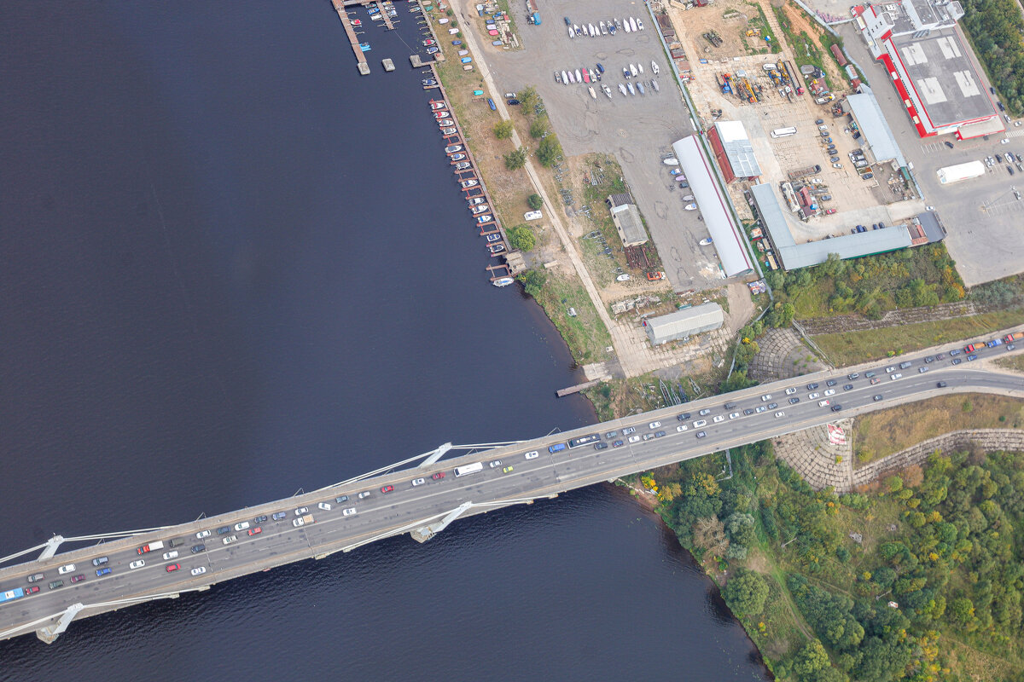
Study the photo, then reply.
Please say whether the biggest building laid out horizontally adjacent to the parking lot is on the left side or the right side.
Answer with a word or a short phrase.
right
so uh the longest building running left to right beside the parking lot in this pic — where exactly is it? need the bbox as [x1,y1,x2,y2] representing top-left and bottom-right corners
[745,183,913,274]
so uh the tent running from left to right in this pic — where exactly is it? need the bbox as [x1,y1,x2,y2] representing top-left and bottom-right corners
[932,160,987,188]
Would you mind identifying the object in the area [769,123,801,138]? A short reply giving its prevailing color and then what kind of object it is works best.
white vehicle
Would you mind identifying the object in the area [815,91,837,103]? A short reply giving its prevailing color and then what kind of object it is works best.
white vehicle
